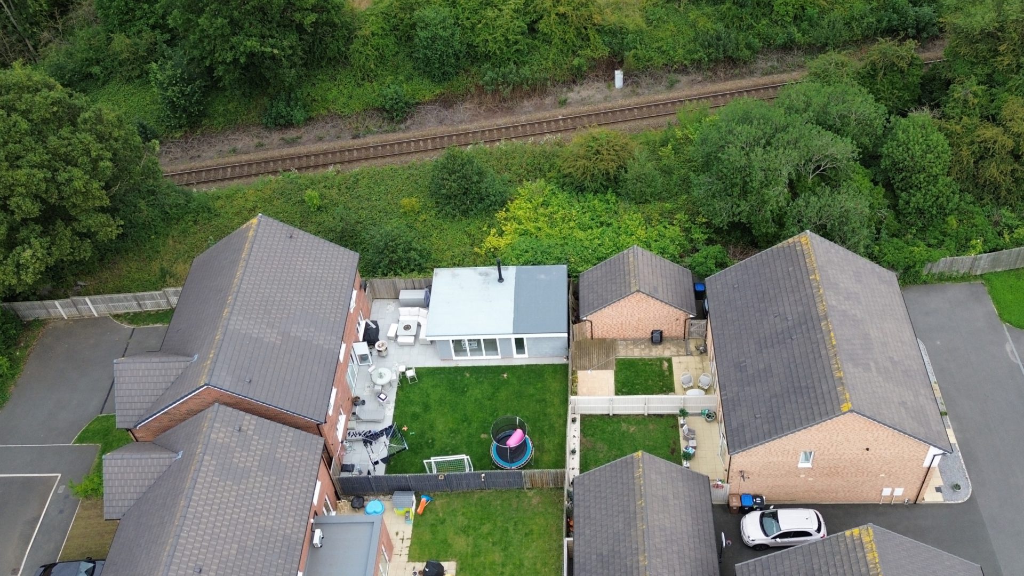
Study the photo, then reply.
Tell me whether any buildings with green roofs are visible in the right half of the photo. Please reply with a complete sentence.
No, I can find no building with a green roof in the right half of the photo.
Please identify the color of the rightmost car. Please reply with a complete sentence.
From above, the rightmost car appears white.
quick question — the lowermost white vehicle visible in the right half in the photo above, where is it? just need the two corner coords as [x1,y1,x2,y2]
[740,506,828,552]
